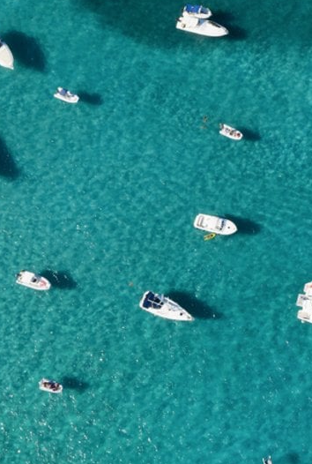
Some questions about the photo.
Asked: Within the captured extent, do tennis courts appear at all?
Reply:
No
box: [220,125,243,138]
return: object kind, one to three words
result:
boat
